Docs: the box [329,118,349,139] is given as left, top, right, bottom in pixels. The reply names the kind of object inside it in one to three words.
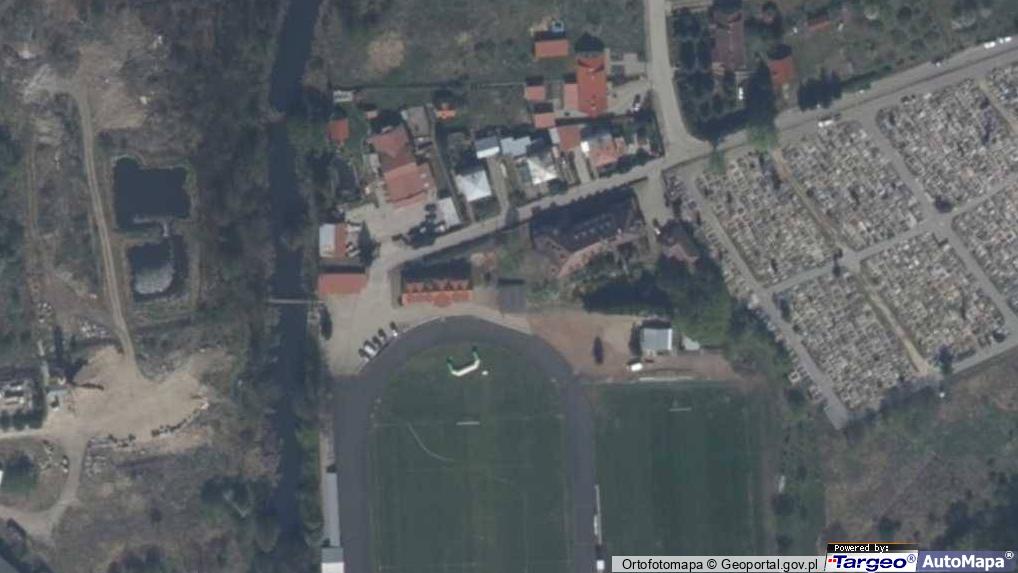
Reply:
shed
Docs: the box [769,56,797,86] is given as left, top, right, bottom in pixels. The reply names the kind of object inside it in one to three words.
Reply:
building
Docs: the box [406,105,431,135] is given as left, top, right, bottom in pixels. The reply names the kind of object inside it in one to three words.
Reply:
house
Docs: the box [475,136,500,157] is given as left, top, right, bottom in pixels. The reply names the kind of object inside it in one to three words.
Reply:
building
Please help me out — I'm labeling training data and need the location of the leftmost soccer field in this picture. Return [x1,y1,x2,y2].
[369,345,570,573]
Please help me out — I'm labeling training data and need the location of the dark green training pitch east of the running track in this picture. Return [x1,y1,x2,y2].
[596,387,766,573]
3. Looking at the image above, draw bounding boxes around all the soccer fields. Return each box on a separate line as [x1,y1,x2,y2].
[596,387,766,573]
[369,345,570,573]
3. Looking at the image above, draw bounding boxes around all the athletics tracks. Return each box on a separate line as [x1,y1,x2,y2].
[333,316,598,573]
